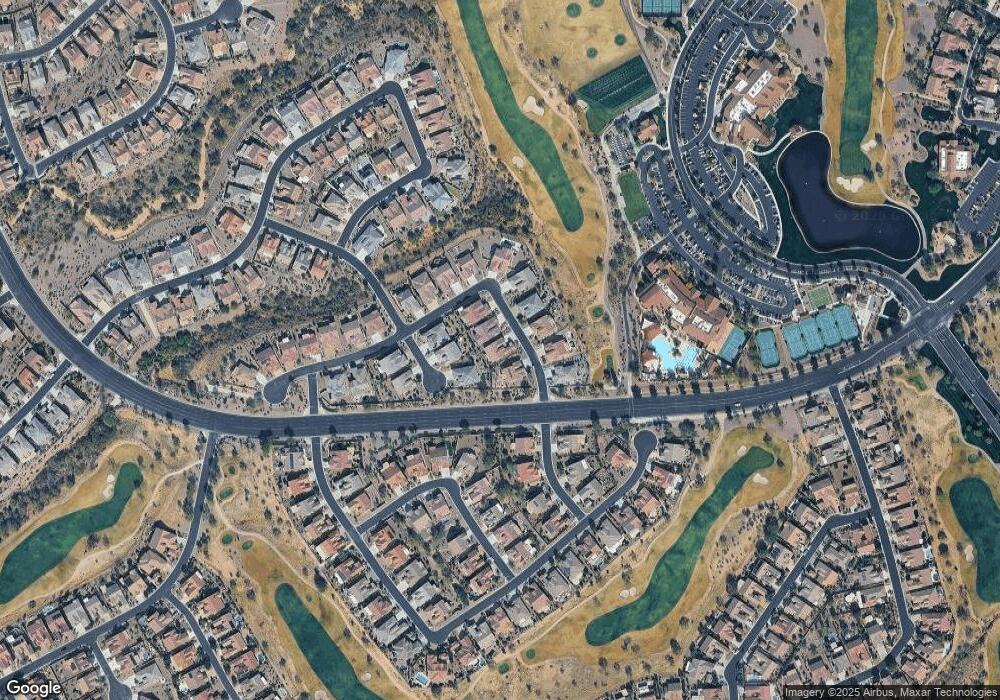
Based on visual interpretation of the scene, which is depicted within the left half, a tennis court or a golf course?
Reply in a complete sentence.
The feature located within the left half is a golf course.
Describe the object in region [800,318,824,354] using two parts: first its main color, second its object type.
blue tennis court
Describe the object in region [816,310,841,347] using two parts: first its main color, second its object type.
blue tennis court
